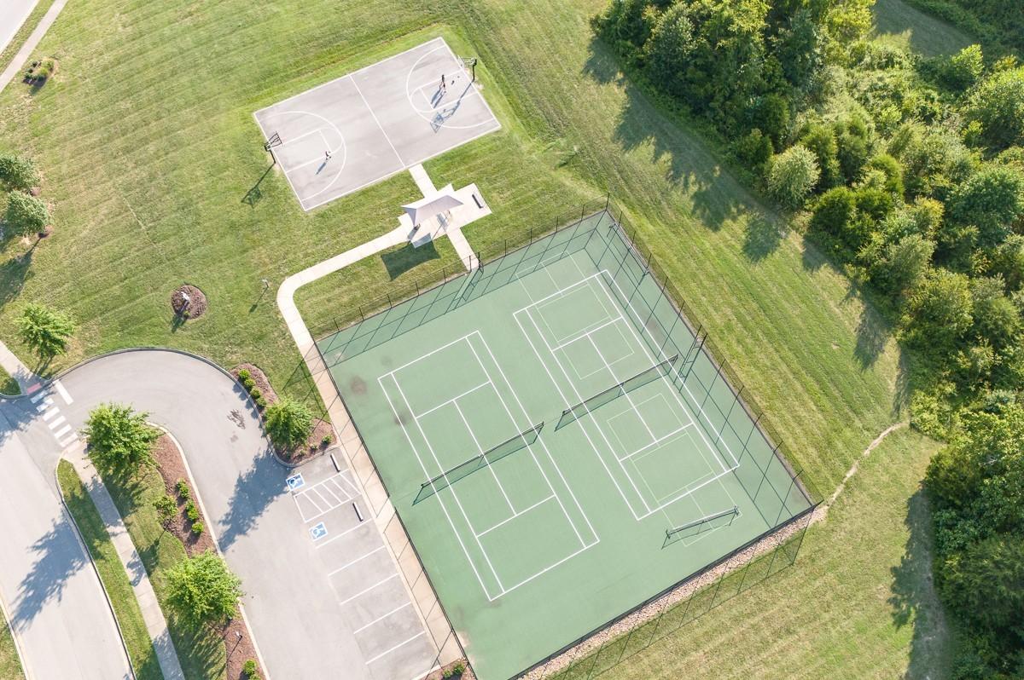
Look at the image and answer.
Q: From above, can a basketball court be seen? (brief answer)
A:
Yes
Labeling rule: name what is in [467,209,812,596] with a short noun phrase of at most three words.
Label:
tennis court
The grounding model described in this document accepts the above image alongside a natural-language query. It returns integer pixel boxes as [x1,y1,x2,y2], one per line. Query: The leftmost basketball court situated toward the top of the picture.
[252,36,503,211]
